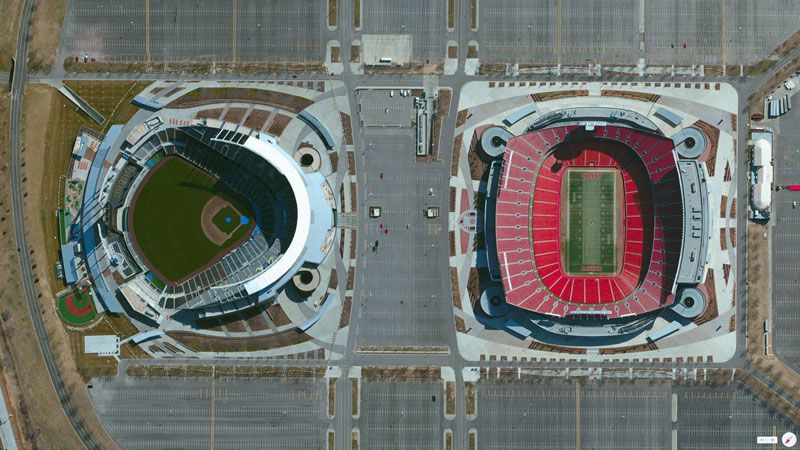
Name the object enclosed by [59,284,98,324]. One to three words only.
baseball field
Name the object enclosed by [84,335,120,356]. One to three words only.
building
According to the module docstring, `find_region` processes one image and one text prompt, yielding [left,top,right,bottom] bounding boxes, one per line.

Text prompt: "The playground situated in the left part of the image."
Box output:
[65,179,84,214]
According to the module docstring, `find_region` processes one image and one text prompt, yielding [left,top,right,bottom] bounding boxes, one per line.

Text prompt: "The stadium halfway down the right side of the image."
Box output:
[480,107,712,337]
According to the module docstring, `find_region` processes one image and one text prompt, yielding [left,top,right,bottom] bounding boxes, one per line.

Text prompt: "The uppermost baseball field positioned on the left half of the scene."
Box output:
[130,152,259,288]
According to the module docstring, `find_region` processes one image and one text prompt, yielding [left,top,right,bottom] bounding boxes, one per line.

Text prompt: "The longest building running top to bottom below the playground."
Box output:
[61,245,77,284]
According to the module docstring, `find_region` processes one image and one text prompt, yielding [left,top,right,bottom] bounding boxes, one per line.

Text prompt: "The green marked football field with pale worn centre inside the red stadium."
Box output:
[560,166,623,277]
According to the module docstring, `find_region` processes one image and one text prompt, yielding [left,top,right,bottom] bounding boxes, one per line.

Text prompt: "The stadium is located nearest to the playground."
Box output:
[81,116,338,326]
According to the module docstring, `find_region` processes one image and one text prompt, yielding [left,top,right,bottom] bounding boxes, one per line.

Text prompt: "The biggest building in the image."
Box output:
[752,132,774,220]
